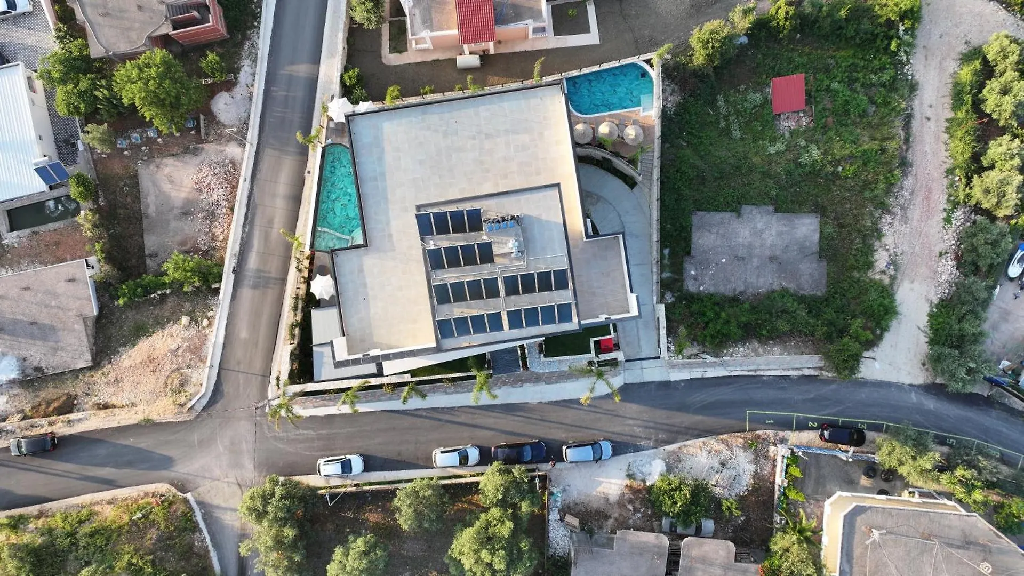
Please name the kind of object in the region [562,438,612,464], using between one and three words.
car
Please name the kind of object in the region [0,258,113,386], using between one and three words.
house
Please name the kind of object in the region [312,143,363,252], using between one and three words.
swimming pool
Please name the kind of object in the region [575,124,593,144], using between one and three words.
umbrella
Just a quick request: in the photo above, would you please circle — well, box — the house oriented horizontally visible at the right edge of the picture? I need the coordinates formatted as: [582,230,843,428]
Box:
[820,486,1024,576]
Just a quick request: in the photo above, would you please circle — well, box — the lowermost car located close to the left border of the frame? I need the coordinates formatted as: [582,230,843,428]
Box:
[11,432,59,458]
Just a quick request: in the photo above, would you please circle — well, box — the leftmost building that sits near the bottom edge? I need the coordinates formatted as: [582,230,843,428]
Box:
[568,520,670,576]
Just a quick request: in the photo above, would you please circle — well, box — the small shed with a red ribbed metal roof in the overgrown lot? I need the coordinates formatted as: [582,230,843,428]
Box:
[765,74,805,116]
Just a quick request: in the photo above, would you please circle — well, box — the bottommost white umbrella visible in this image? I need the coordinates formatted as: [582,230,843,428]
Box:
[311,274,334,300]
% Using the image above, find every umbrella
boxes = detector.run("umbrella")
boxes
[311,274,334,300]
[354,100,376,110]
[622,125,643,146]
[597,122,618,142]
[575,124,593,144]
[326,98,353,124]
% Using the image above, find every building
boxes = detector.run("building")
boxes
[0,258,113,386]
[67,0,235,76]
[404,0,547,58]
[568,520,670,576]
[676,530,759,576]
[820,486,1024,576]
[765,74,805,116]
[0,61,66,207]
[311,81,641,385]
[600,338,614,354]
